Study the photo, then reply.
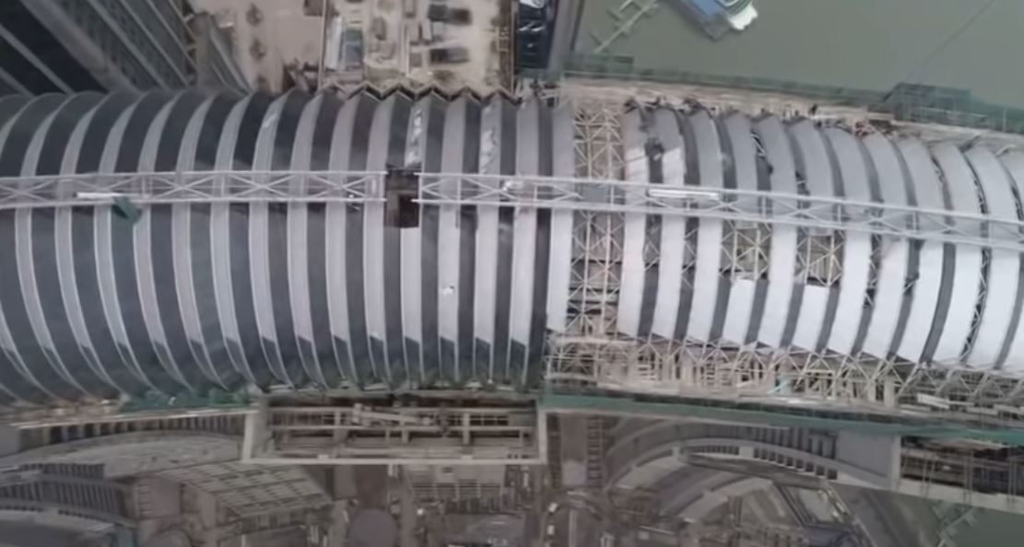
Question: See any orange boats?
No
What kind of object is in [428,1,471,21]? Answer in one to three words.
vehicle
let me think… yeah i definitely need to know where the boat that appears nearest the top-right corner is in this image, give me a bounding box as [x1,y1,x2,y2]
[707,0,751,30]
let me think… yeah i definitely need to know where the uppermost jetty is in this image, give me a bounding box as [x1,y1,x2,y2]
[589,0,658,49]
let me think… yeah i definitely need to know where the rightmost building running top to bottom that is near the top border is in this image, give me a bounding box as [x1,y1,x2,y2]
[517,0,553,80]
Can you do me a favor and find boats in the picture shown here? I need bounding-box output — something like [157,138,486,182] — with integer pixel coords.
[707,0,751,30]
[661,0,729,43]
